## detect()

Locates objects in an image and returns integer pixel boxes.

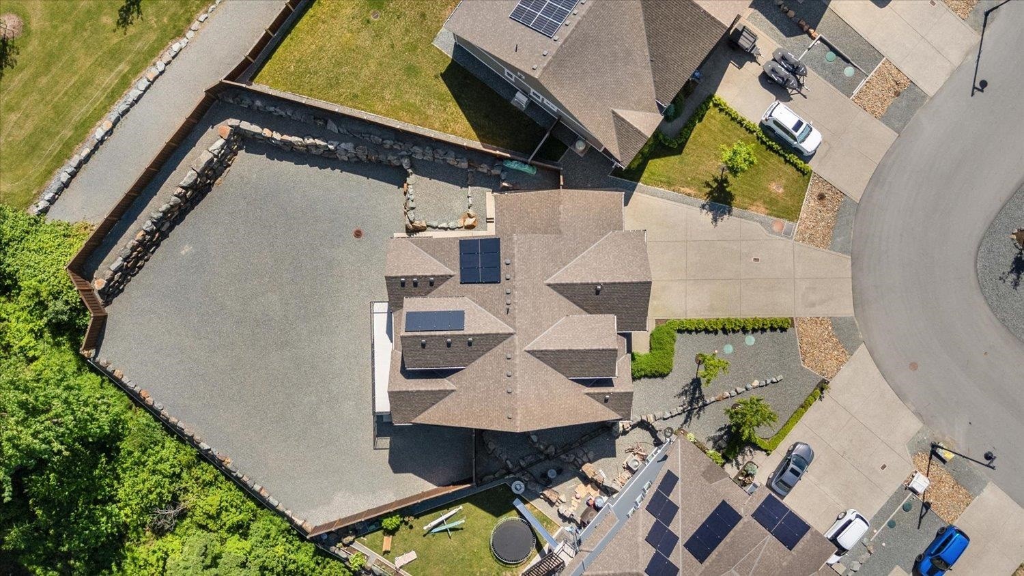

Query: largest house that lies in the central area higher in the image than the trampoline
[370,188,652,452]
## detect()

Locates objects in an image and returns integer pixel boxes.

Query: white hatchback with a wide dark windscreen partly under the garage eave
[826,508,871,564]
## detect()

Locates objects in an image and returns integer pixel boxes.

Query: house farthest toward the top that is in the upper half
[439,0,750,171]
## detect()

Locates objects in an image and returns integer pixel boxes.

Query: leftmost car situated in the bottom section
[769,440,814,503]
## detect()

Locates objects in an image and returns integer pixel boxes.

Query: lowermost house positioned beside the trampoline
[535,434,834,576]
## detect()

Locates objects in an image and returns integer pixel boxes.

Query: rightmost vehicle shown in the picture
[915,532,965,576]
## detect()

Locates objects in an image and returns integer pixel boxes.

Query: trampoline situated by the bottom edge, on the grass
[491,517,536,564]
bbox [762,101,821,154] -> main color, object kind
white car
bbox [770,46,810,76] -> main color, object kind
gray boat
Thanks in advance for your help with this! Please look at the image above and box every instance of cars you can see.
[826,508,871,564]
[762,101,821,154]
[915,532,965,576]
[769,440,814,503]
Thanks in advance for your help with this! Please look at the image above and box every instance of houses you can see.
[439,0,750,171]
[370,188,652,452]
[535,434,834,576]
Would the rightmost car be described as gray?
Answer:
No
